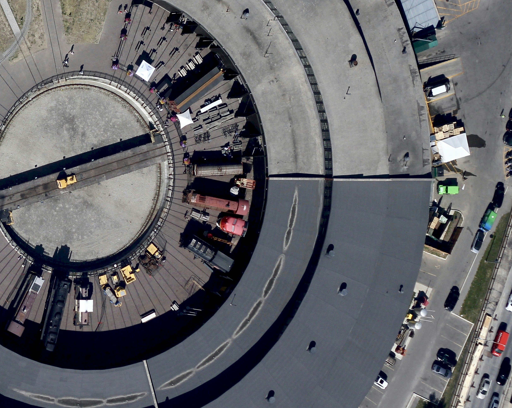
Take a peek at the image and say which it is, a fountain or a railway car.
railway car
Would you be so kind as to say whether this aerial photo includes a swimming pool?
No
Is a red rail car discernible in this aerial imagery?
Yes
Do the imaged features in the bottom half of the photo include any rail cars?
Yes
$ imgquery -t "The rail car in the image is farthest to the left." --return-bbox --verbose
[2,268,44,335]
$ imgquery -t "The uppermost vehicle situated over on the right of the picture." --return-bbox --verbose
[423,78,450,99]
